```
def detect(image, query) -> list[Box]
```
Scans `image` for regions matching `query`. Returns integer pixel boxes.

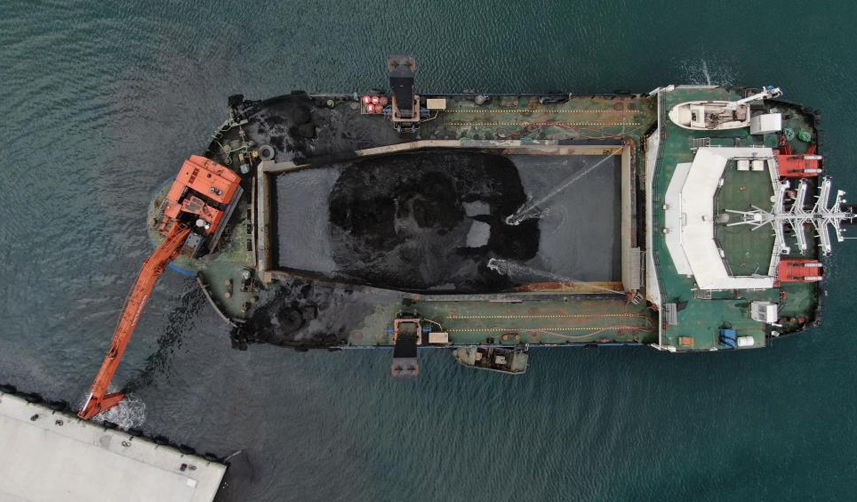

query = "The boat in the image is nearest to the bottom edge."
[452,347,530,374]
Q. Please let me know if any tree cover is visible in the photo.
No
